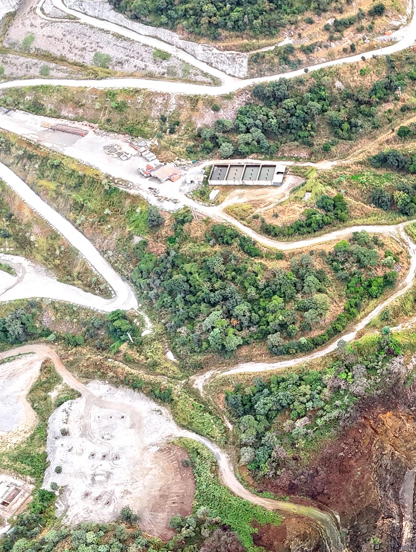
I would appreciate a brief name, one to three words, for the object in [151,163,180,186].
building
